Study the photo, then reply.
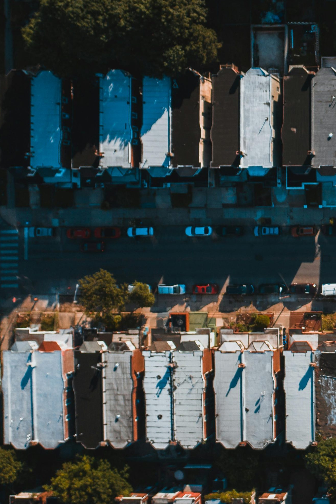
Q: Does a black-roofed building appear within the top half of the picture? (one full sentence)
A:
Yes, you'll find a black-roofed building within the top half of the picture.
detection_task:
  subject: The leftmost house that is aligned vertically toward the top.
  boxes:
[0,69,57,195]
